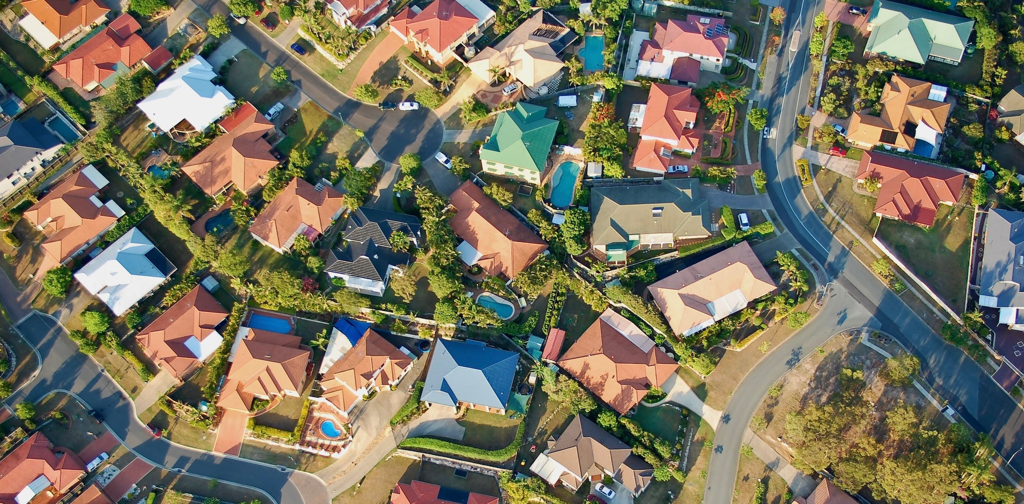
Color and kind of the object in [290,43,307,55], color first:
blue vehicle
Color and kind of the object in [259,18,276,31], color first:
red vehicle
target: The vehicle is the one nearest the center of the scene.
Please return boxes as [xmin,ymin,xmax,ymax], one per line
[433,150,452,169]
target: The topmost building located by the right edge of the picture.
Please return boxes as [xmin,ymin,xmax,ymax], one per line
[863,0,974,69]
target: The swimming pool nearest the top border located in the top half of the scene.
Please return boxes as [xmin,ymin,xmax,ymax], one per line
[576,34,606,72]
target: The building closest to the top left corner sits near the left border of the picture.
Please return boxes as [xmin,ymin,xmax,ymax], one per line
[19,0,112,51]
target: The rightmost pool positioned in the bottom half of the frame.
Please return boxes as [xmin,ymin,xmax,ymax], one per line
[474,291,518,323]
